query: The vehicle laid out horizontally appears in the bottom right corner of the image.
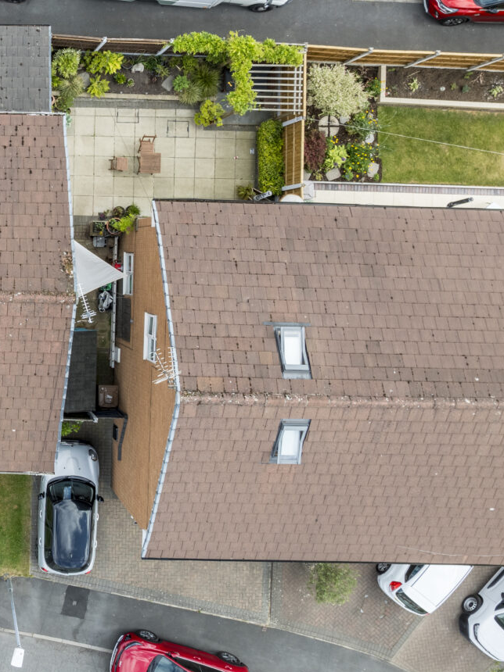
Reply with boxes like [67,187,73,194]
[375,568,479,613]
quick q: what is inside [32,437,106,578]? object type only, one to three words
car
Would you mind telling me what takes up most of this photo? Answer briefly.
buildings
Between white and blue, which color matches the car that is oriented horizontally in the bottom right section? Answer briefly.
white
